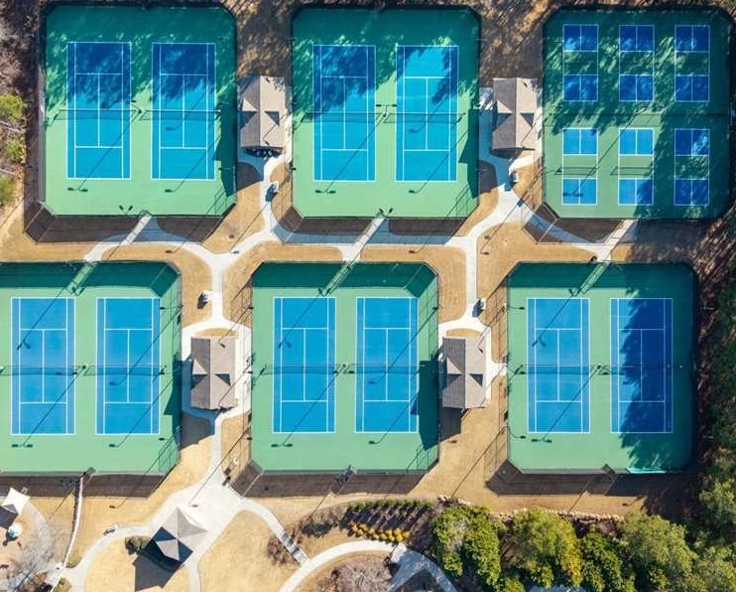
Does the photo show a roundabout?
No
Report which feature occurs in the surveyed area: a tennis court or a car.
tennis court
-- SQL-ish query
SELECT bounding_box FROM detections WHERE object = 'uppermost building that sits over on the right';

[493,74,537,149]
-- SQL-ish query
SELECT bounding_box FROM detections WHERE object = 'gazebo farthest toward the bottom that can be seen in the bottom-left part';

[153,502,210,562]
